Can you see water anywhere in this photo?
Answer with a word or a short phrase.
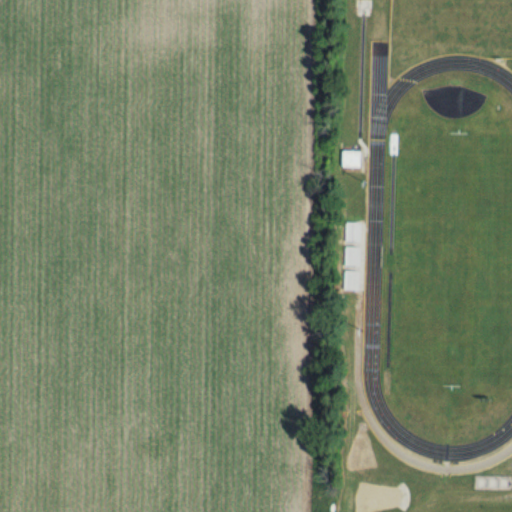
No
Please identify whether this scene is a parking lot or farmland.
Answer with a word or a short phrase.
farmland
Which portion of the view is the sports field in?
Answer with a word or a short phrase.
right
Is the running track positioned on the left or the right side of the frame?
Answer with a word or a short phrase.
right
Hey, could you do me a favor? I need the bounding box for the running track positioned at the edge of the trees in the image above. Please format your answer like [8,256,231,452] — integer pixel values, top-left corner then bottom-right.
[365,41,512,460]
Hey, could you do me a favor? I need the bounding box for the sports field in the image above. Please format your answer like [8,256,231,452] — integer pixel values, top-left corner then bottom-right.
[380,71,512,446]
